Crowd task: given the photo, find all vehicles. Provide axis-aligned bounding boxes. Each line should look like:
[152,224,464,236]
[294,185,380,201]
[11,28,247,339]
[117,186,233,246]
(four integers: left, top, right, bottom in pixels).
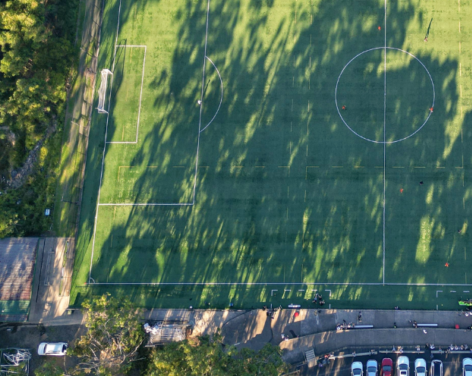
[431,360,443,376]
[396,357,410,376]
[414,358,428,376]
[461,357,472,376]
[36,342,68,357]
[365,358,379,376]
[350,360,364,376]
[380,358,394,376]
